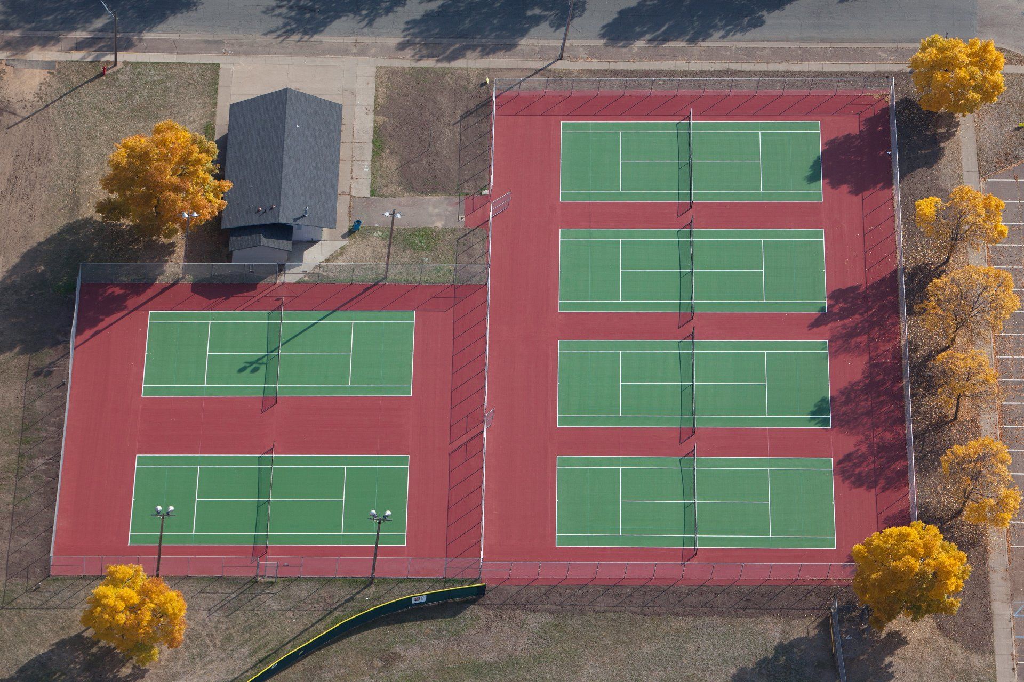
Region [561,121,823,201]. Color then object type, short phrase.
green tennis court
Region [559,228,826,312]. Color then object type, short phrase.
green tennis court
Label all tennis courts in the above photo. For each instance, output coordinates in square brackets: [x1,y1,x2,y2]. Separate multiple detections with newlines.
[142,311,415,397]
[559,228,826,312]
[557,457,835,548]
[558,340,831,427]
[129,455,409,545]
[561,121,823,201]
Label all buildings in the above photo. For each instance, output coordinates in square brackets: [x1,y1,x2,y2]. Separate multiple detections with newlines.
[221,87,343,271]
